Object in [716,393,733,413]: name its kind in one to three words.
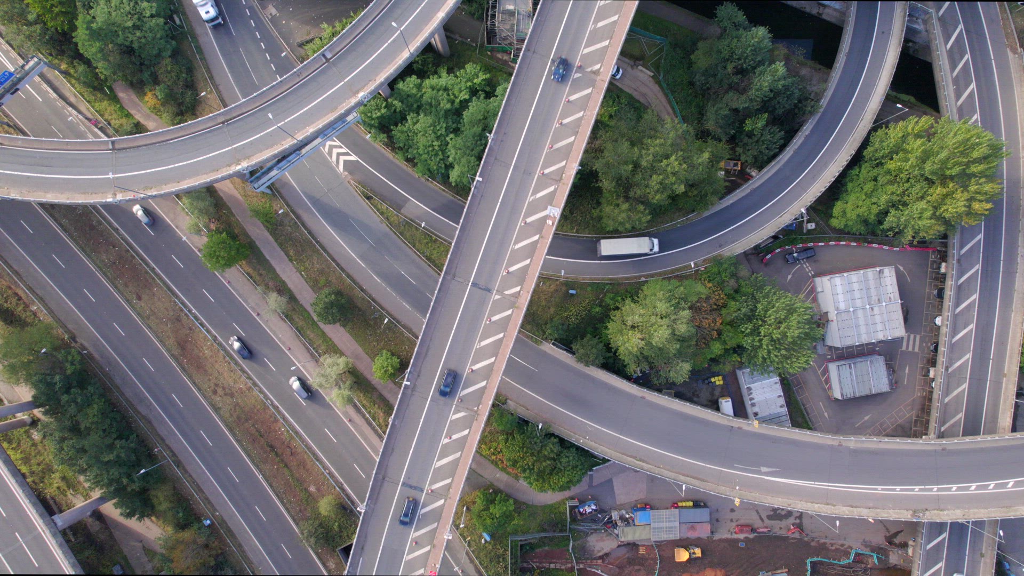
vehicle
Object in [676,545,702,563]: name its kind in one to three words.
vehicle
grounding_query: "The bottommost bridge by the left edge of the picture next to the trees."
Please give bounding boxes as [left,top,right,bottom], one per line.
[0,433,93,576]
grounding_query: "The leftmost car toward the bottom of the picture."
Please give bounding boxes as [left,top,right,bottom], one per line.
[229,334,253,359]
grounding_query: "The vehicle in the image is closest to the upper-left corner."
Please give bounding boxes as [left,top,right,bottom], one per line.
[193,0,227,34]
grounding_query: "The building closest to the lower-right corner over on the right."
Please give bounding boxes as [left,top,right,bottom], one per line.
[827,355,891,400]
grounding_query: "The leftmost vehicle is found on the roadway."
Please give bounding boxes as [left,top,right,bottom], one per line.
[131,202,155,227]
